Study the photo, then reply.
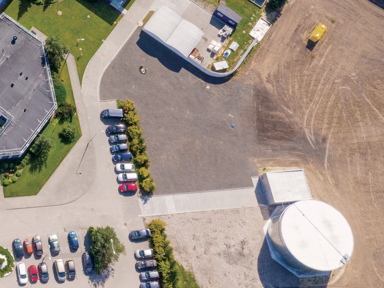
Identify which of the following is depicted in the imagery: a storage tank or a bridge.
storage tank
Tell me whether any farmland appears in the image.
Yes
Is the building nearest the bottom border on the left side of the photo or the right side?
right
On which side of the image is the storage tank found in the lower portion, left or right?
right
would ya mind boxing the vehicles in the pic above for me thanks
[139,281,161,288]
[139,271,160,281]
[118,174,138,183]
[129,229,152,240]
[49,235,61,254]
[112,153,133,162]
[29,265,38,282]
[109,135,128,144]
[24,239,33,255]
[13,239,23,258]
[110,144,129,153]
[115,163,135,173]
[54,259,66,281]
[32,235,43,256]
[106,125,127,134]
[135,259,157,270]
[119,183,138,192]
[65,261,75,280]
[101,109,126,119]
[16,263,27,285]
[69,232,79,249]
[38,263,49,282]
[135,249,155,258]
